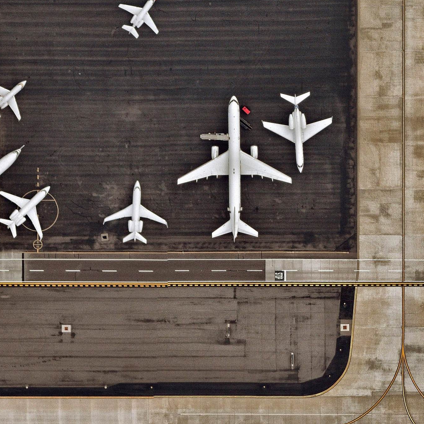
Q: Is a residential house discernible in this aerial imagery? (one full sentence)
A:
No, this view has no residential house in it.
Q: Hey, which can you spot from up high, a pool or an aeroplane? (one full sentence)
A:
There is an aeroplane in the scene.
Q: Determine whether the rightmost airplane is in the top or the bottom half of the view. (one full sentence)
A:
Seen from above, the rightmost airplane lies in the top half of the view.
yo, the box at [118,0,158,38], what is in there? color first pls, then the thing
white airplane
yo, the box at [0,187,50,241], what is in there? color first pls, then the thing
white airplane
